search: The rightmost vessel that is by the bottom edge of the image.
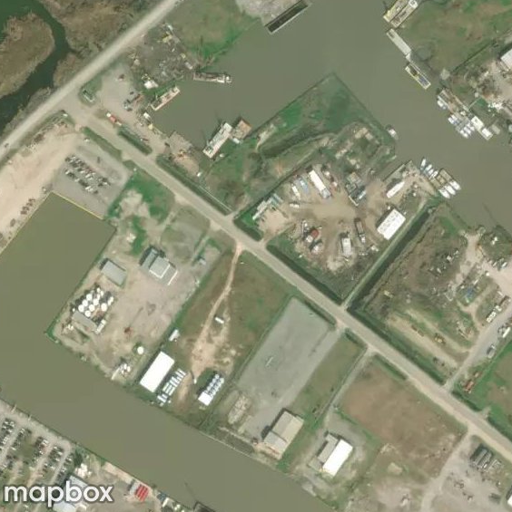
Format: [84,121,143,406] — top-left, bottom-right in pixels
[191,496,222,512]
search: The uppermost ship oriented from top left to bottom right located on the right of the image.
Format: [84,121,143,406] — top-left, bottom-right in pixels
[386,30,412,56]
